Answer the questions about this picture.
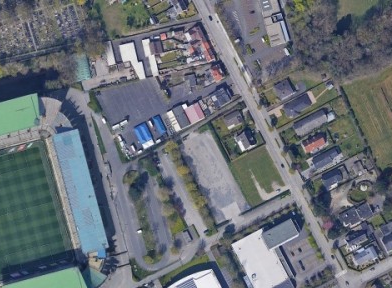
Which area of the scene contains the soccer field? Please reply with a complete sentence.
Look in the bottom left portion of the view to spot the soccer field.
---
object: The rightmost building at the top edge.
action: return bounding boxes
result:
[257,0,290,48]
